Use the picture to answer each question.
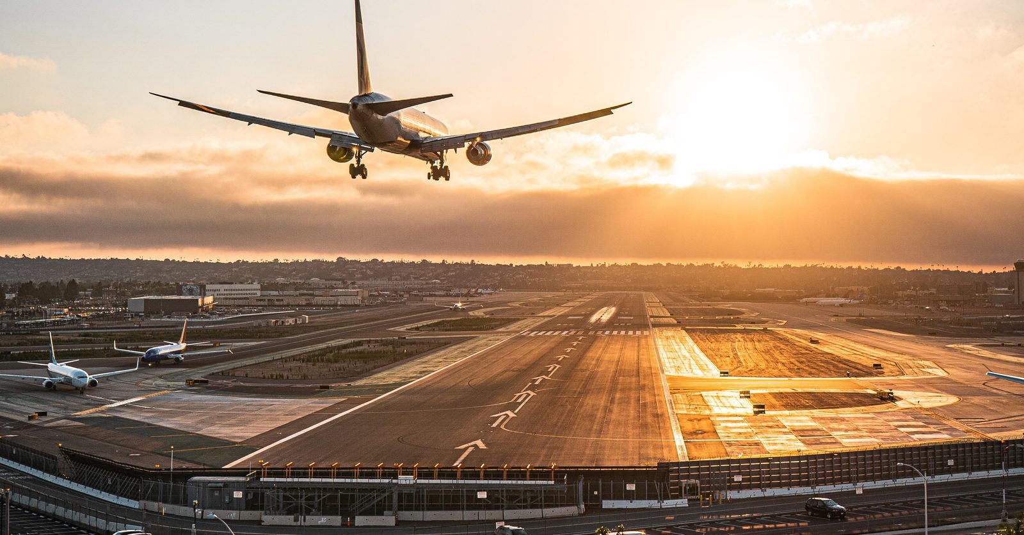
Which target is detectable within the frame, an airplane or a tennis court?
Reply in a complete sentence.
Looking from above, you can make out an airplane.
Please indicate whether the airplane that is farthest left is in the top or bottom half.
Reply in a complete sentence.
The airplane that is farthest left is in the bottom half of the image.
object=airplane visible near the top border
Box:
[150,0,636,181]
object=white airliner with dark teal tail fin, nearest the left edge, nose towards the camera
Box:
[0,332,138,392]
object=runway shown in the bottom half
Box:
[200,293,705,500]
